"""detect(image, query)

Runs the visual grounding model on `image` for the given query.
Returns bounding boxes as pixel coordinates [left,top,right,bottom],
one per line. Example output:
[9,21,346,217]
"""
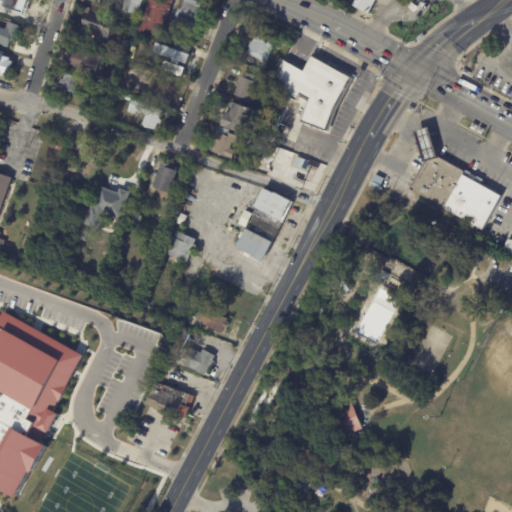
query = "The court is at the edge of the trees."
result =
[416,326,453,366]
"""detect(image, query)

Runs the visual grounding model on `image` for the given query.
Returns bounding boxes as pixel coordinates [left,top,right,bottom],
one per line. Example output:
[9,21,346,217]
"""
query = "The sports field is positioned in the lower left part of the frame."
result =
[42,452,134,512]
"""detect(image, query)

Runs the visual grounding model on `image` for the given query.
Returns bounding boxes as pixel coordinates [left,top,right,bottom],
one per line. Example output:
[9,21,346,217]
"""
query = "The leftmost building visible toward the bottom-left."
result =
[0,312,82,497]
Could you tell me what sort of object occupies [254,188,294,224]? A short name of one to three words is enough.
building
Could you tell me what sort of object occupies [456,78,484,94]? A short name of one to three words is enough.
vehicle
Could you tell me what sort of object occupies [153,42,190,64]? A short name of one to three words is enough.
house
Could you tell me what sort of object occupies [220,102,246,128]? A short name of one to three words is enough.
house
